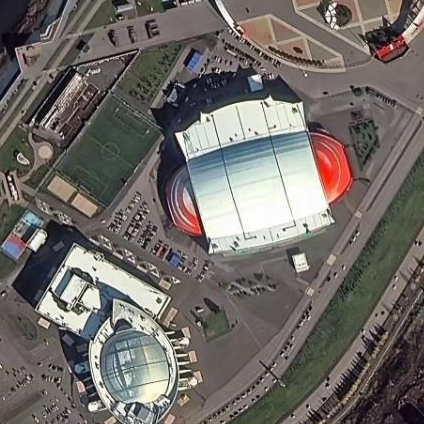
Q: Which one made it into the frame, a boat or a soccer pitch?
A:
soccer pitch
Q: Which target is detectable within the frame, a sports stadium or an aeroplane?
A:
sports stadium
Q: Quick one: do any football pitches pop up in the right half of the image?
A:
No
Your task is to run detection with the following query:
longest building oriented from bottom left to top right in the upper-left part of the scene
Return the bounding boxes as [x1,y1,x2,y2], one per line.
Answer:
[53,80,106,140]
